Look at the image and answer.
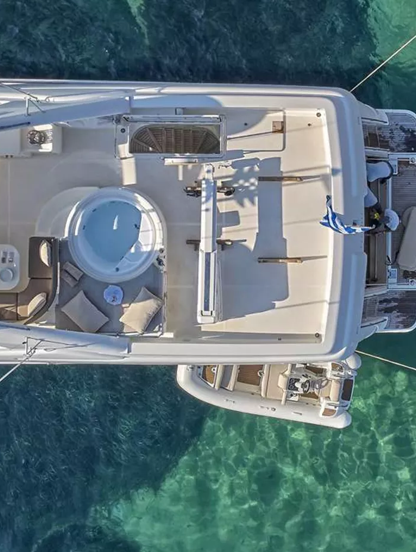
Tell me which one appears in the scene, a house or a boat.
boat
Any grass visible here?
No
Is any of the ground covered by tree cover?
No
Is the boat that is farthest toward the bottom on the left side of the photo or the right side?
right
